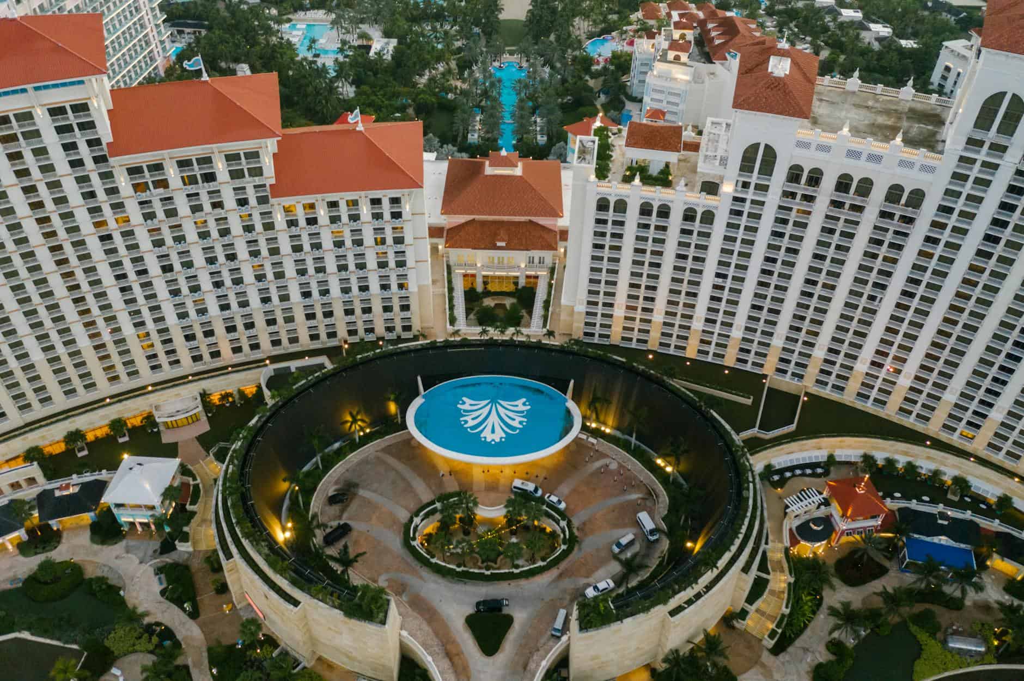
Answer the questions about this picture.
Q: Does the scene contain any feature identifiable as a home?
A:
Yes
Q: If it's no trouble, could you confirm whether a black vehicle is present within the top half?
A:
No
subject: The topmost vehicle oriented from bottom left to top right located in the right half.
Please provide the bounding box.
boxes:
[610,530,638,553]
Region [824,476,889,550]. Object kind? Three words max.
house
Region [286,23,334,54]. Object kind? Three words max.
swimming pool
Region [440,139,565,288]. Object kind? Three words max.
building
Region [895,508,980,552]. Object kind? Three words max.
building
